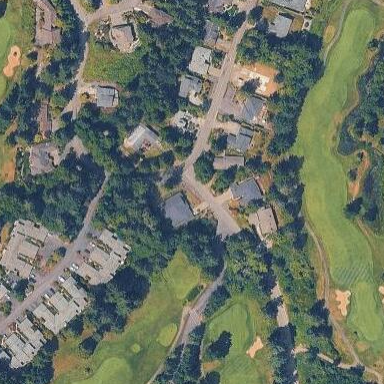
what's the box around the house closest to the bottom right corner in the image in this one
[250,204,278,235]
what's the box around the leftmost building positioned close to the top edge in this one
[31,0,62,44]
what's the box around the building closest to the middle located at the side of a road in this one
[162,192,196,227]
